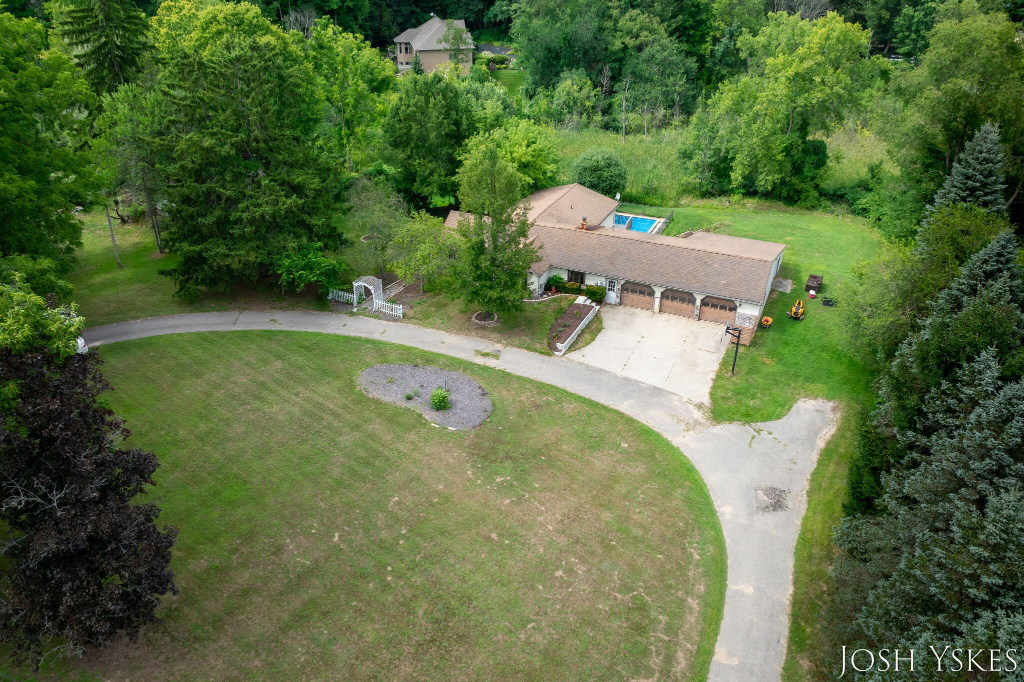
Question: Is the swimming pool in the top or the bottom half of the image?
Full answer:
You can find the swimming pool in the top half.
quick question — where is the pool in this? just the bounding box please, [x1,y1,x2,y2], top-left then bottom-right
[616,210,662,234]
